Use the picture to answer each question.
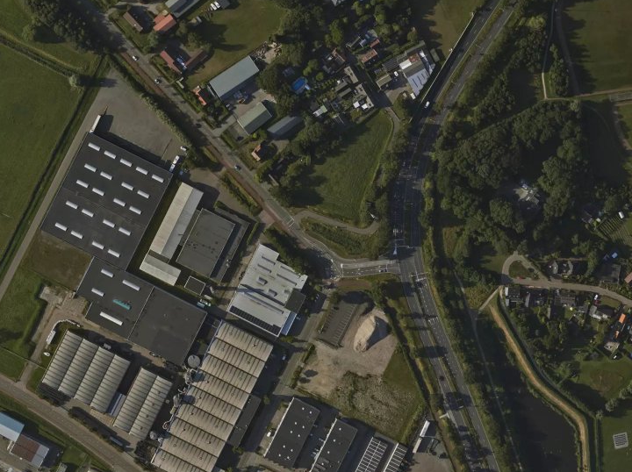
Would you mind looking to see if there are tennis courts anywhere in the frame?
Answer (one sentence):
No, I can see no tennis court in this picture.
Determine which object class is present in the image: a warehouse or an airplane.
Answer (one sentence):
Of the two, only a warehouse appears.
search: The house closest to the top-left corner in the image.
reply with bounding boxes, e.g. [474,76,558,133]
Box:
[126,9,149,33]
